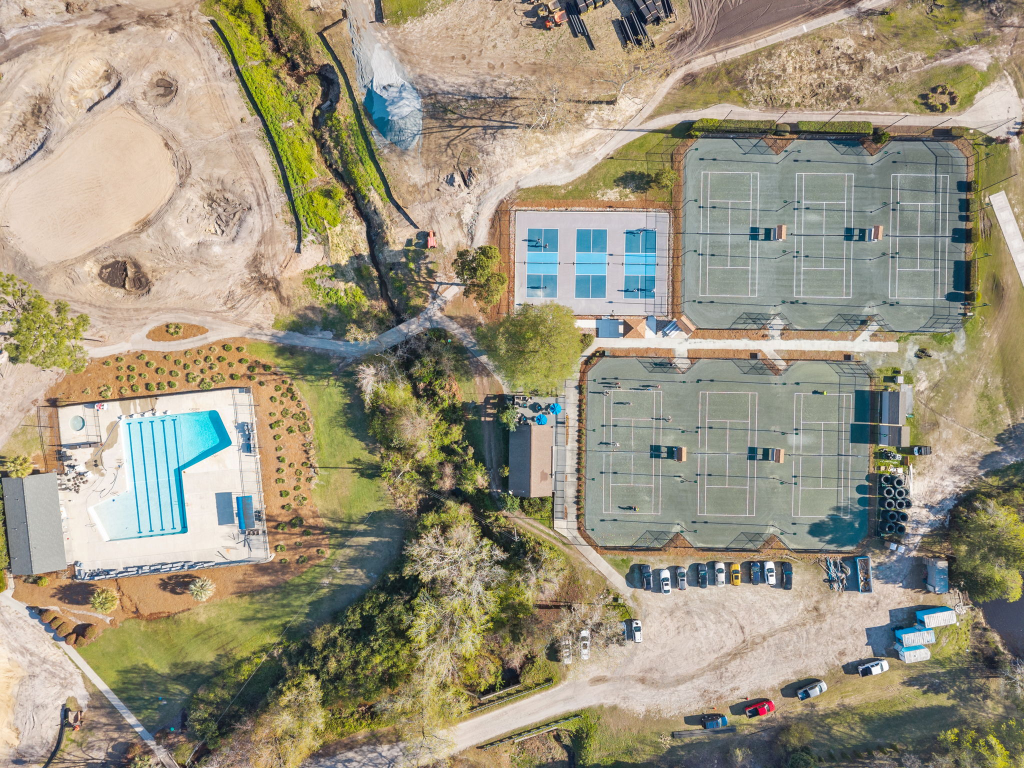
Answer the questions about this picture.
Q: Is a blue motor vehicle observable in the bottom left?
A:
No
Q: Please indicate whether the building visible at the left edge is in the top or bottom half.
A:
bottom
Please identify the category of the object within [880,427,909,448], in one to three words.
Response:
shed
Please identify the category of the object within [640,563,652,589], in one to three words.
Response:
vehicle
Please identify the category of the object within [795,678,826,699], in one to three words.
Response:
truck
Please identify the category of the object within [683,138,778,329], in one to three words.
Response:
tennis court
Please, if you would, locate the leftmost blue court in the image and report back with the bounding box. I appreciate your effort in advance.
[526,228,559,298]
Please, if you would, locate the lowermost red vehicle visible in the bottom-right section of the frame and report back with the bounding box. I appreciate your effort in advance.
[743,698,775,717]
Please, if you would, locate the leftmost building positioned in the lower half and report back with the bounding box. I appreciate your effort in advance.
[1,472,72,575]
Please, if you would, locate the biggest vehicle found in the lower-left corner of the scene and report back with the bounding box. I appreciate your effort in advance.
[65,711,82,732]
